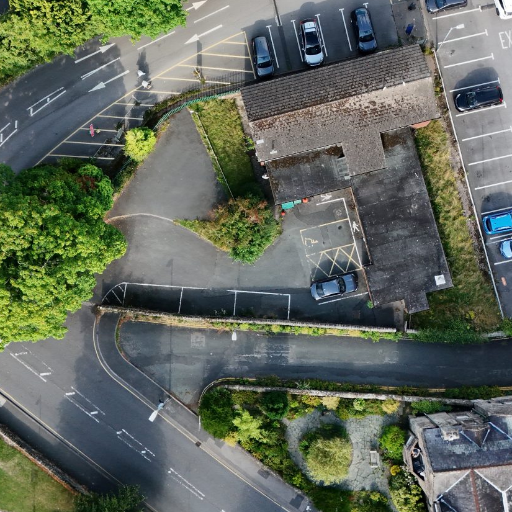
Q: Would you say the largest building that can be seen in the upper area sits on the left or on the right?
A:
right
